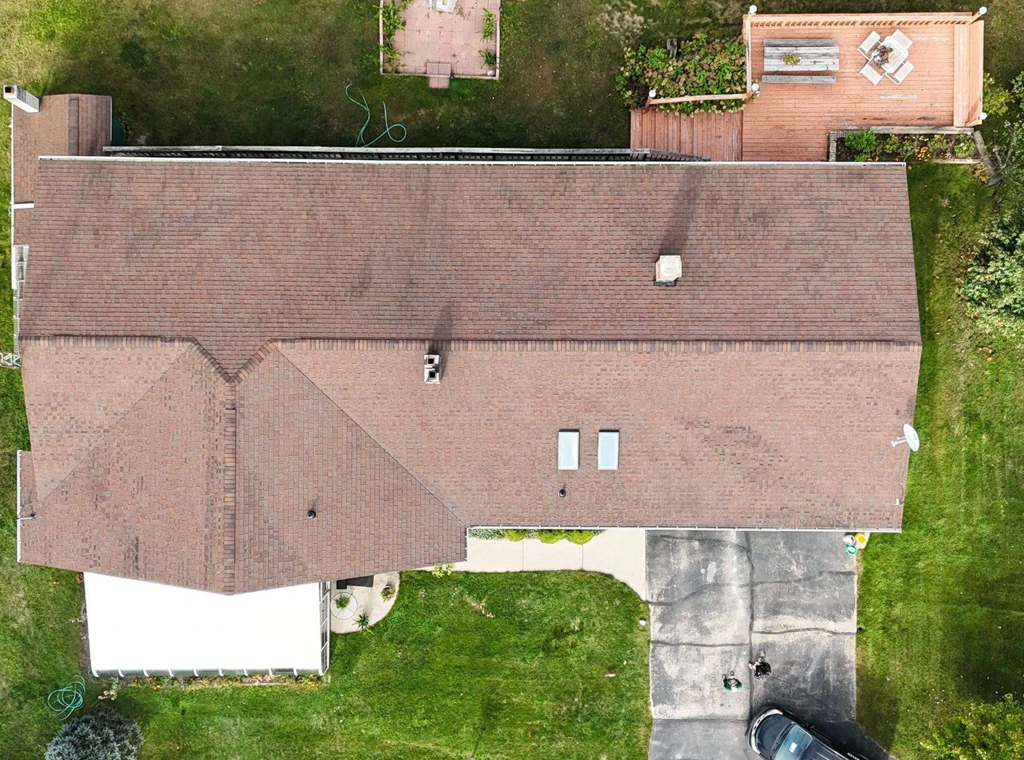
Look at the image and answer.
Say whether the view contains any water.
No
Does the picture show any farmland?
No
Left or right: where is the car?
right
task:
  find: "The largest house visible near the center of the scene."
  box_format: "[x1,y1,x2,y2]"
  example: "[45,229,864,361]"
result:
[16,155,923,596]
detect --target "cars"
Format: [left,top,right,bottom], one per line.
[745,703,887,760]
